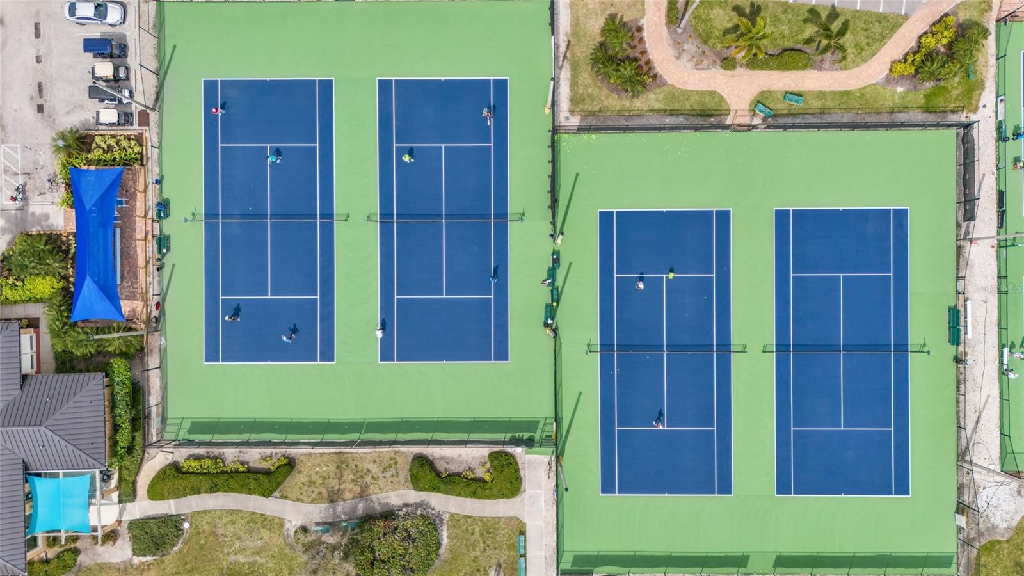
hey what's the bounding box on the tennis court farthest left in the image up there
[203,78,334,363]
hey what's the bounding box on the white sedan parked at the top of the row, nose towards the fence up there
[64,1,127,30]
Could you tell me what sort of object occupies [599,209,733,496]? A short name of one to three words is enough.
tennis court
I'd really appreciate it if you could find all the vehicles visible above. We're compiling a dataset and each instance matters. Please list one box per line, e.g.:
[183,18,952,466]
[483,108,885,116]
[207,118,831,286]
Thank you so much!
[91,62,130,83]
[64,1,127,30]
[96,109,134,129]
[84,38,129,60]
[89,85,134,105]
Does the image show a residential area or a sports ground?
sports ground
